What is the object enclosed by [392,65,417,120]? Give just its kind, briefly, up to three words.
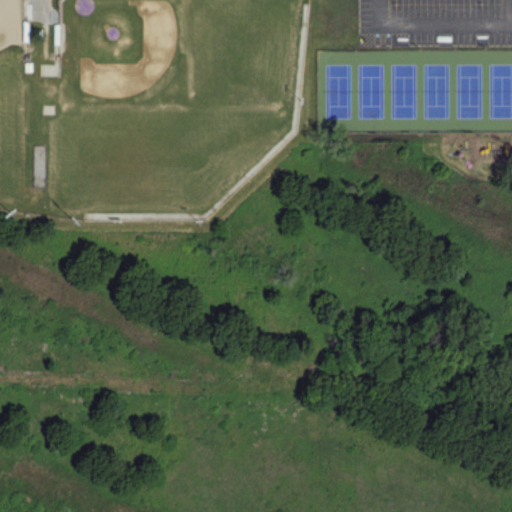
tennis court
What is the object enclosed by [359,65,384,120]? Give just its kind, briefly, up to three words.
tennis court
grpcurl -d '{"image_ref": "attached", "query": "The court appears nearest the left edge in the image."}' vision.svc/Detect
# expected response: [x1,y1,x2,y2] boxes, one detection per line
[324,65,354,120]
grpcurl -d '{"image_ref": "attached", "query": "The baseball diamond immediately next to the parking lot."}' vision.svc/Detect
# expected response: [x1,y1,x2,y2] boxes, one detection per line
[60,0,303,214]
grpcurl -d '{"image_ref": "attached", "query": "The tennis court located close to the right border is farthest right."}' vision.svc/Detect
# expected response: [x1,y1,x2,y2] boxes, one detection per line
[490,65,512,120]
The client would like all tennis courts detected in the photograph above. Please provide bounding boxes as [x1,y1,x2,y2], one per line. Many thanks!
[324,65,354,120]
[392,65,417,120]
[359,65,384,120]
[457,65,482,120]
[490,65,512,120]
[424,65,450,120]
